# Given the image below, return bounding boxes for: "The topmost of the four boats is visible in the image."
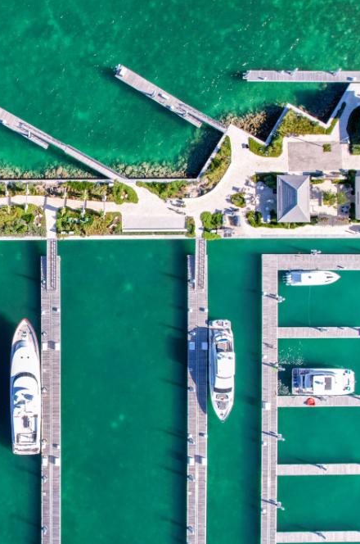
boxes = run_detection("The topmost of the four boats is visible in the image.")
[281,270,342,286]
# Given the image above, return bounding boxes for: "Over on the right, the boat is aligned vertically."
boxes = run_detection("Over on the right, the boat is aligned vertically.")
[205,319,236,422]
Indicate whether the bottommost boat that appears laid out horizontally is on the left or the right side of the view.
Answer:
right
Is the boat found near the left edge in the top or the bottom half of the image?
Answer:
bottom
